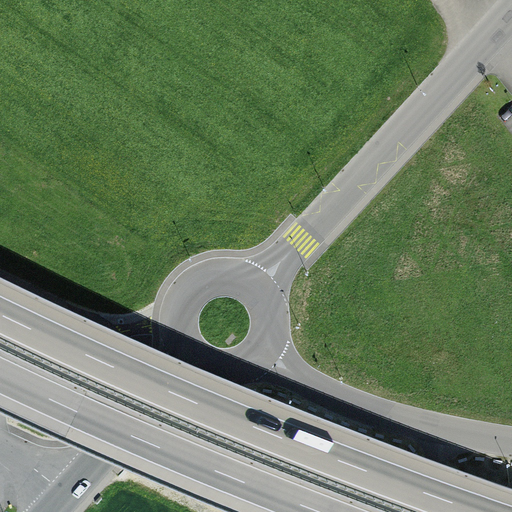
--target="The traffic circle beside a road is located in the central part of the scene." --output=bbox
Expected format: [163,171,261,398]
[131,214,302,386]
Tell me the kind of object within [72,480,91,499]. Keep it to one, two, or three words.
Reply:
car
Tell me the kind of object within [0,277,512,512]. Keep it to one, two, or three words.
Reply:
overpass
